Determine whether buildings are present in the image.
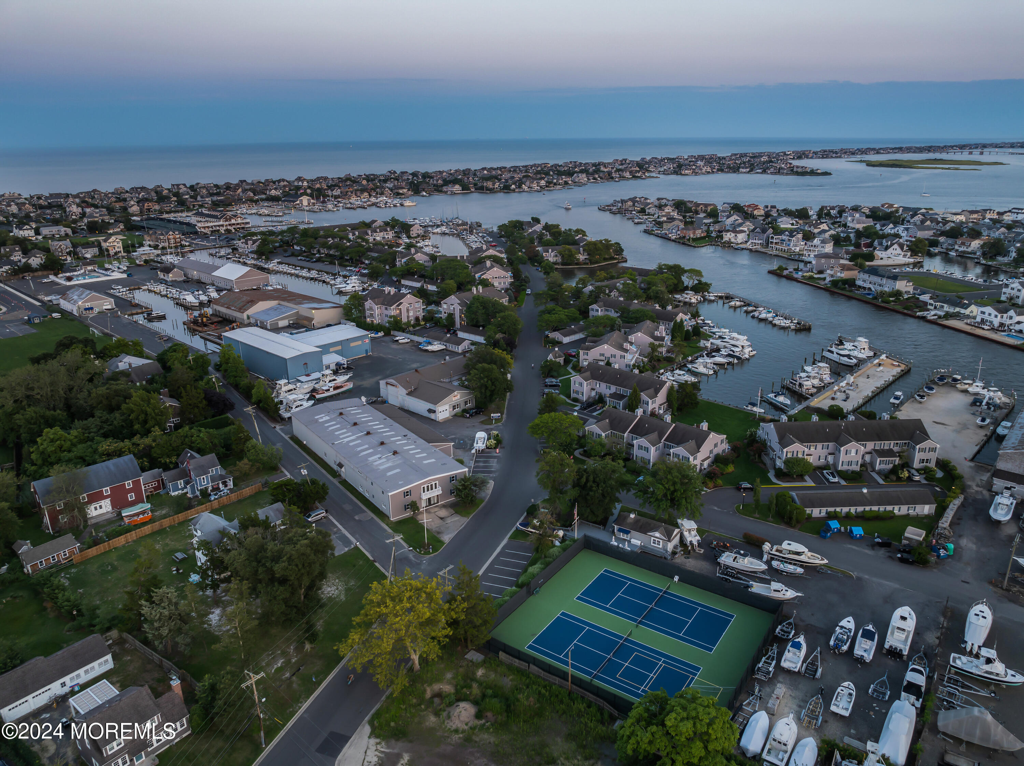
Yes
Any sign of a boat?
Yes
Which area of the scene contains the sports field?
left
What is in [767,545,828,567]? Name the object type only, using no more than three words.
boat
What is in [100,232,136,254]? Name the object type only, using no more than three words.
house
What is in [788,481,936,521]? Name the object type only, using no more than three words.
building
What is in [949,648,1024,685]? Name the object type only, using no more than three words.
boat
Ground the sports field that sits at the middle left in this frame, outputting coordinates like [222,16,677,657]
[0,314,102,370]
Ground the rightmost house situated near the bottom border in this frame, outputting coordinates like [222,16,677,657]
[76,670,195,766]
